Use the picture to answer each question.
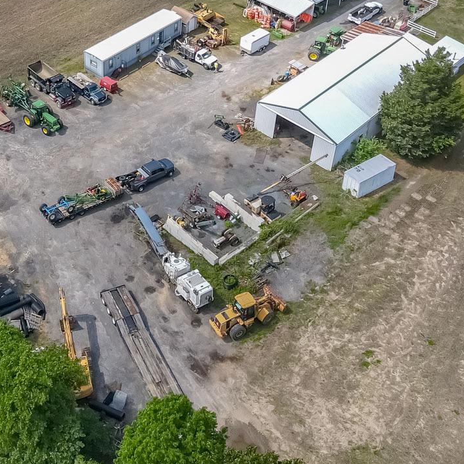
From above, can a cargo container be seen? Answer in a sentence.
Yes, the photo shows a cargo container.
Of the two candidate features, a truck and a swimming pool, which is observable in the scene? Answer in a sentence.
This aerial view contains a truck.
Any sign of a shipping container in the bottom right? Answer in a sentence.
No, no shipping container is visible in the bottom right.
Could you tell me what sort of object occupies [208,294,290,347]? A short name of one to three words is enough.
work vehicle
